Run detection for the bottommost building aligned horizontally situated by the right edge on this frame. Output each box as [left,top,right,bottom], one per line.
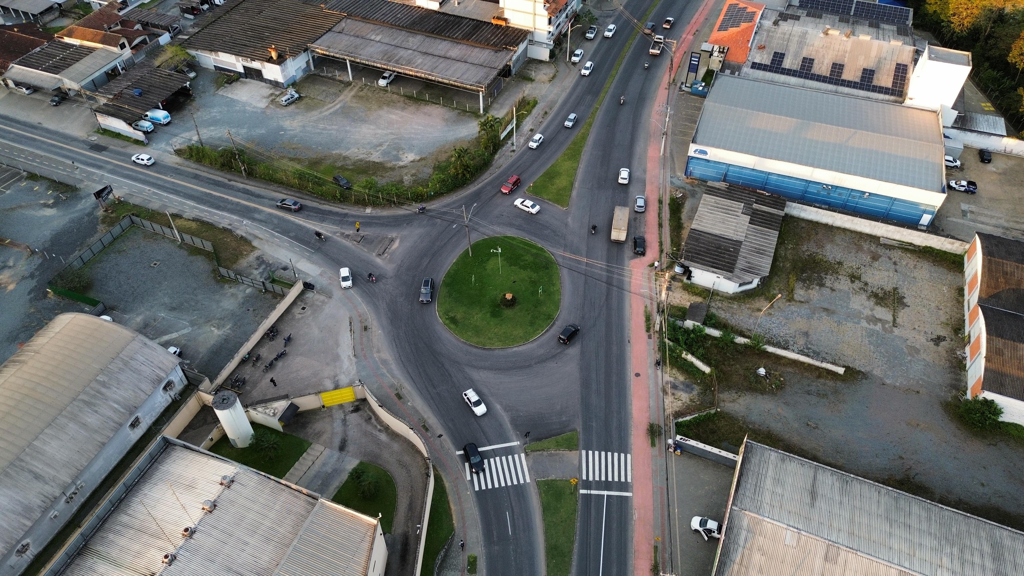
[703,431,1024,576]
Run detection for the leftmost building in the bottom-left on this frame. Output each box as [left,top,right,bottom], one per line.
[0,313,189,576]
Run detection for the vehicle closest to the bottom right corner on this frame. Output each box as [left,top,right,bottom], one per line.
[690,516,718,543]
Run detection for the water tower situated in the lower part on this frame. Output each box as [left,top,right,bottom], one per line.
[195,380,253,451]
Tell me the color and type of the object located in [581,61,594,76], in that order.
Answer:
white vehicle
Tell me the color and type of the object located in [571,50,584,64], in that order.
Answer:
white vehicle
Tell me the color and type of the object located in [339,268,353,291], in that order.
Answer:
white car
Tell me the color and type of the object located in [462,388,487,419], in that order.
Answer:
white car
